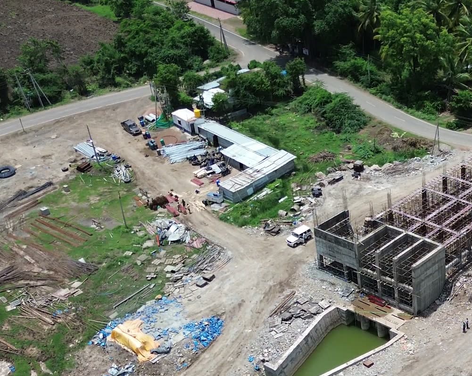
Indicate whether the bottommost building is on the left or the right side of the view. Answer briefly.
right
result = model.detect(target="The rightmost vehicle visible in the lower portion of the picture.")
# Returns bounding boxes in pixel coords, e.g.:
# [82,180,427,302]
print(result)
[285,223,313,246]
